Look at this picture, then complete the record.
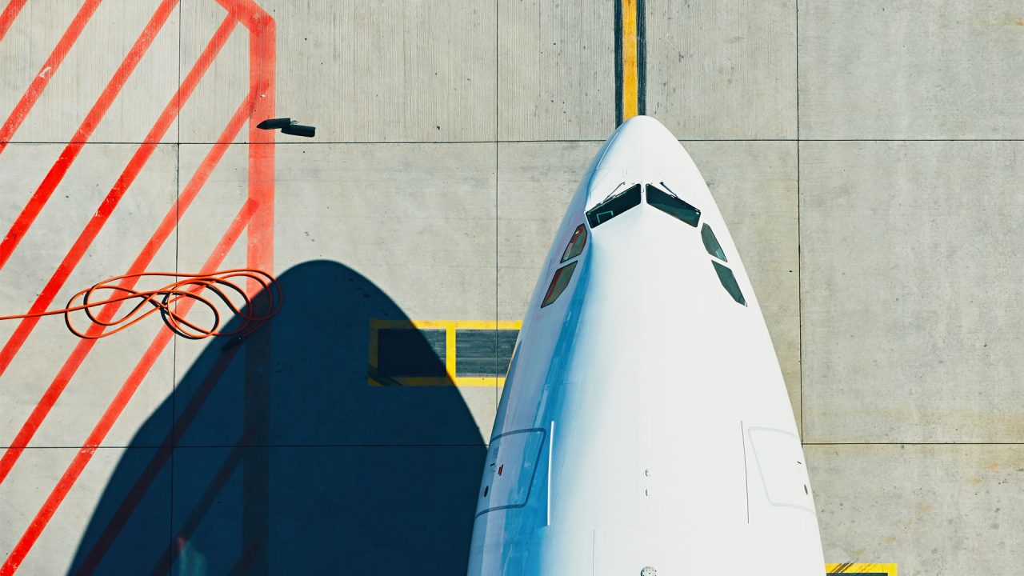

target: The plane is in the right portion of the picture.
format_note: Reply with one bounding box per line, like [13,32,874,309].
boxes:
[466,115,827,576]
